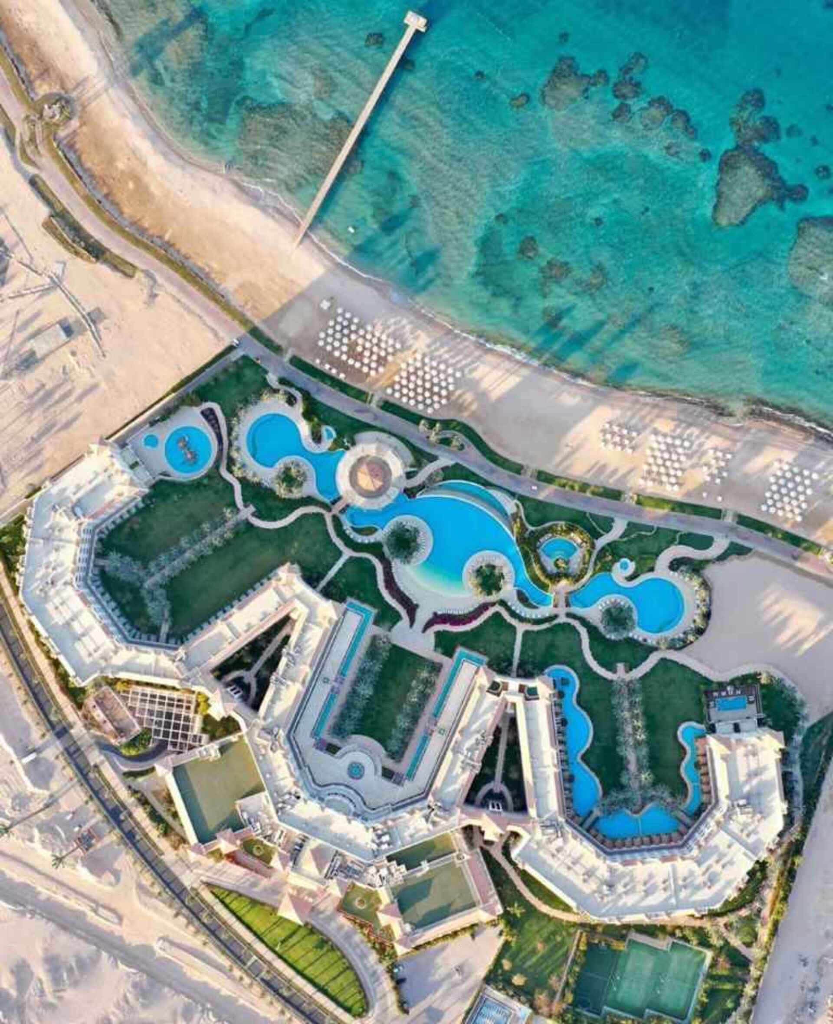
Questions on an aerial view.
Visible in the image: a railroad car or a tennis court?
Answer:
tennis court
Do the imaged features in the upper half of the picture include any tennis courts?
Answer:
No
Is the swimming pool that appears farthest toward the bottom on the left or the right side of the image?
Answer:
right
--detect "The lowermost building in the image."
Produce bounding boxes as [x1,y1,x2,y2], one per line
[464,985,531,1024]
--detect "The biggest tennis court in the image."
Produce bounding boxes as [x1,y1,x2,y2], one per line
[606,939,710,1019]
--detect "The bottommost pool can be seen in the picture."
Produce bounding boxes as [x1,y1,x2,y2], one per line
[592,802,681,838]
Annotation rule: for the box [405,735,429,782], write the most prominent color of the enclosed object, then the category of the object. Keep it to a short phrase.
blue swimming pool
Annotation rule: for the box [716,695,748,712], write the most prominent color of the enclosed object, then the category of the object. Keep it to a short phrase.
blue swimming pool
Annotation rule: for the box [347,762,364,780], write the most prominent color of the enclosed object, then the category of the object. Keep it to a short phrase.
blue fountain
